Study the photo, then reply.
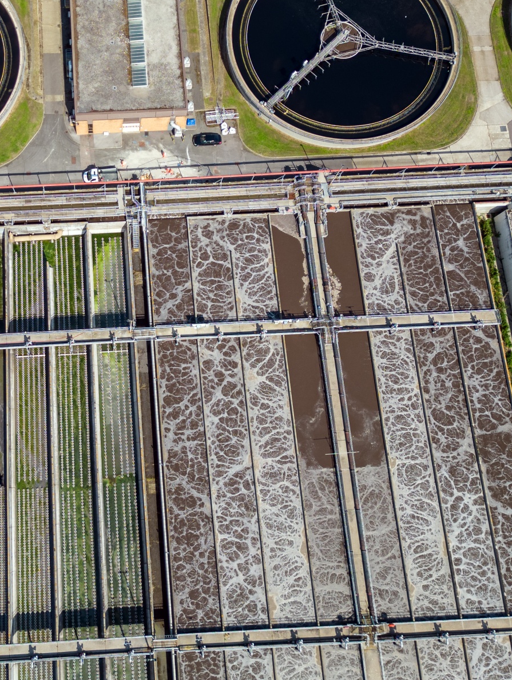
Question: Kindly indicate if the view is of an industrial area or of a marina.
industrial area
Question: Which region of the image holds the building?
top left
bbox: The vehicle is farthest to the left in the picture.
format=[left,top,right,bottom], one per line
[83,167,120,183]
